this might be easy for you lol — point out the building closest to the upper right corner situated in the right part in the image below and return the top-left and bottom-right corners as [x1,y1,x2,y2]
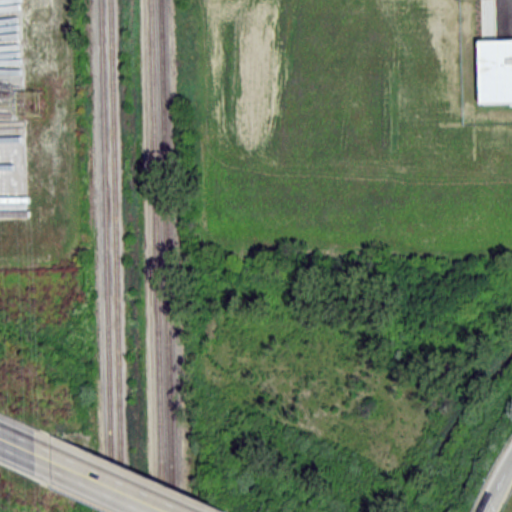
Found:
[477,41,512,110]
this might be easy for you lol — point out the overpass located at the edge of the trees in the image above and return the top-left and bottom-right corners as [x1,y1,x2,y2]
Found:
[34,427,225,512]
